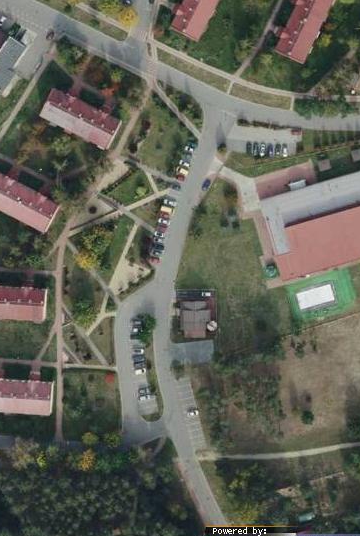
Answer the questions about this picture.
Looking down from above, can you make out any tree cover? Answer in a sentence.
Yes, there's tree cover in this view.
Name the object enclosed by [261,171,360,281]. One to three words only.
building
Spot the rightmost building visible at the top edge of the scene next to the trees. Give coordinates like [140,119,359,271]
[274,0,335,64]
